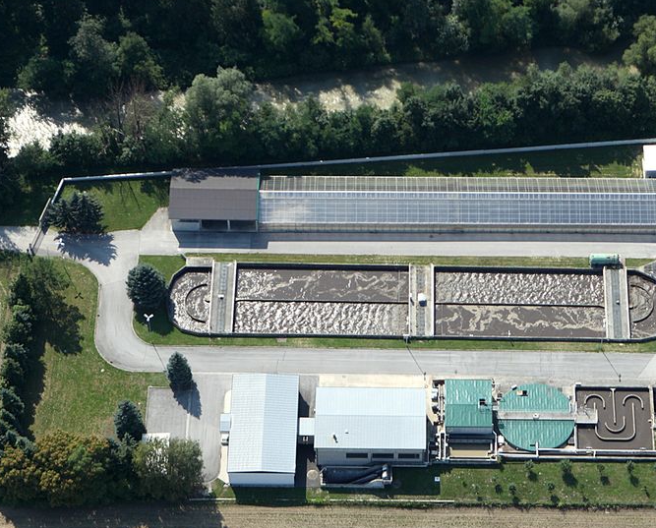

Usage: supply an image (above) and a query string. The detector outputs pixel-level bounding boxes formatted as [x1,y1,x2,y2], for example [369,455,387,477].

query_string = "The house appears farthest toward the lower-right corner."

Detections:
[444,380,493,435]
